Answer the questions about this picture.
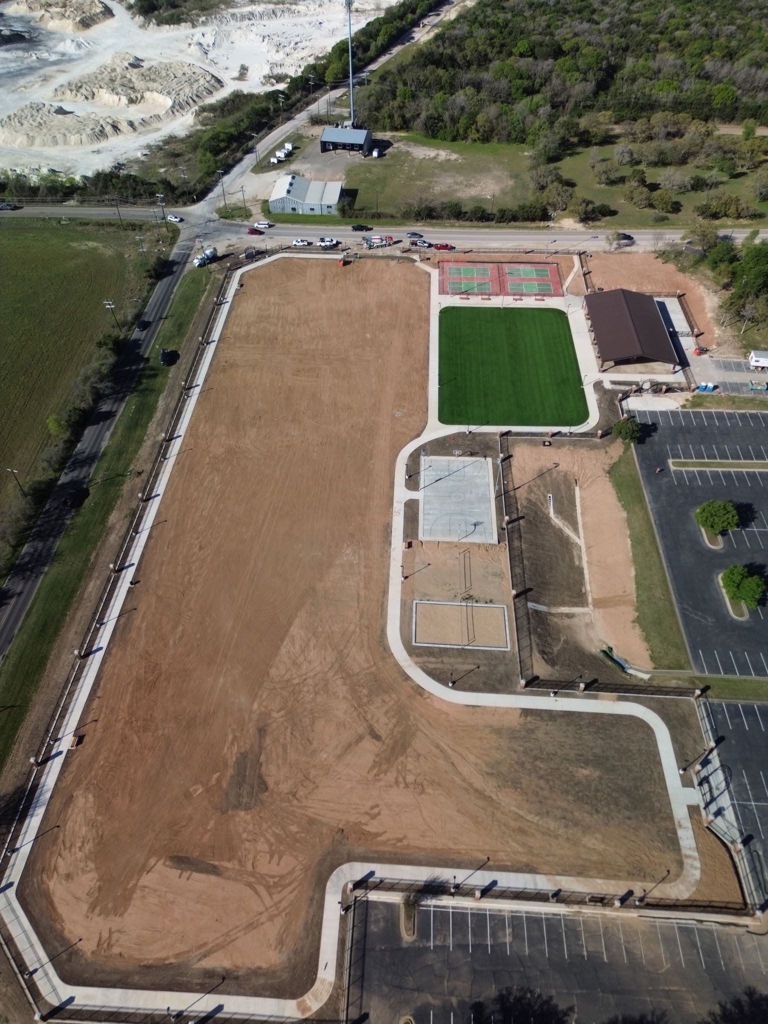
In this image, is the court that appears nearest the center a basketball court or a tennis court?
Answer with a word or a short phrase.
basketball court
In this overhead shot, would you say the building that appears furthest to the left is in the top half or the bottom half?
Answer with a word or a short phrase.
top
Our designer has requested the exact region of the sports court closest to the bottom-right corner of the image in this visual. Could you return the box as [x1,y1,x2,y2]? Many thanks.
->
[412,601,510,651]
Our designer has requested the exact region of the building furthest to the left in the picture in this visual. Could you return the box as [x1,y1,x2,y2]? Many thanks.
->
[268,175,344,215]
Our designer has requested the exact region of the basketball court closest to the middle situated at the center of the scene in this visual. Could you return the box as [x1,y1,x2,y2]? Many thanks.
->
[419,456,498,544]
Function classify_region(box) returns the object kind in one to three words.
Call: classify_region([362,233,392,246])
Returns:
vehicle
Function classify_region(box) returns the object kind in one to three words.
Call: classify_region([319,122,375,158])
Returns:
shed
